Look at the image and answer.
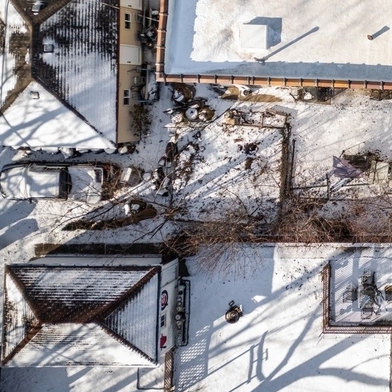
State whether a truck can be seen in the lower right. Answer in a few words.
No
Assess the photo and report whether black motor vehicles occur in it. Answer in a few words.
No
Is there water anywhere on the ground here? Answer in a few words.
No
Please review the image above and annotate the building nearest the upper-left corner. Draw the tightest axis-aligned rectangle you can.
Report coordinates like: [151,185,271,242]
[0,0,142,150]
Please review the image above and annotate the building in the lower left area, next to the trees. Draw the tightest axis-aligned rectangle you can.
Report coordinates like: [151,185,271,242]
[0,253,177,367]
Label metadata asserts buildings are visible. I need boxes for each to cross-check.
[0,0,142,150]
[0,253,177,367]
[157,0,392,92]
